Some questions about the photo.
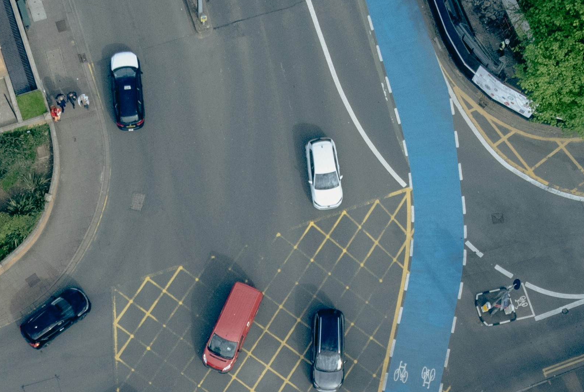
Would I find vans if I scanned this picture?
Yes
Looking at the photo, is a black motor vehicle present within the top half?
Yes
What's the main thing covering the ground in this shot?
paved ground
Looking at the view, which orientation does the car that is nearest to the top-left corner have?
from top to bottom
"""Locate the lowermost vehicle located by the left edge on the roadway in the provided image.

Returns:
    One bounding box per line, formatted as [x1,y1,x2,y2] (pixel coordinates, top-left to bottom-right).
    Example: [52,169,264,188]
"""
[23,286,92,347]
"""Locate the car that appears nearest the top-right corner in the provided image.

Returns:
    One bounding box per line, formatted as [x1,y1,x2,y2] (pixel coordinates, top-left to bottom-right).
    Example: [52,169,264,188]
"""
[305,136,346,213]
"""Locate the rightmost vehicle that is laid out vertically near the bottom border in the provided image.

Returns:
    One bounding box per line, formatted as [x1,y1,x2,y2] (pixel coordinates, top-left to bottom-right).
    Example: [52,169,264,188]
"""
[309,309,349,392]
